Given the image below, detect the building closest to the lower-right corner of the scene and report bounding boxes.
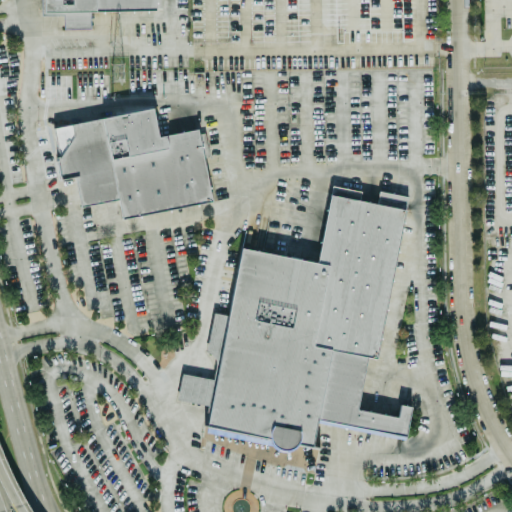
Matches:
[178,187,414,452]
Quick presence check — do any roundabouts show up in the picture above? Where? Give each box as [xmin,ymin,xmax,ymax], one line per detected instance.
[223,490,260,512]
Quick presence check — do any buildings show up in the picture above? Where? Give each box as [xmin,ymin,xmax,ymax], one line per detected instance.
[57,108,212,220]
[46,0,157,30]
[178,187,414,452]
